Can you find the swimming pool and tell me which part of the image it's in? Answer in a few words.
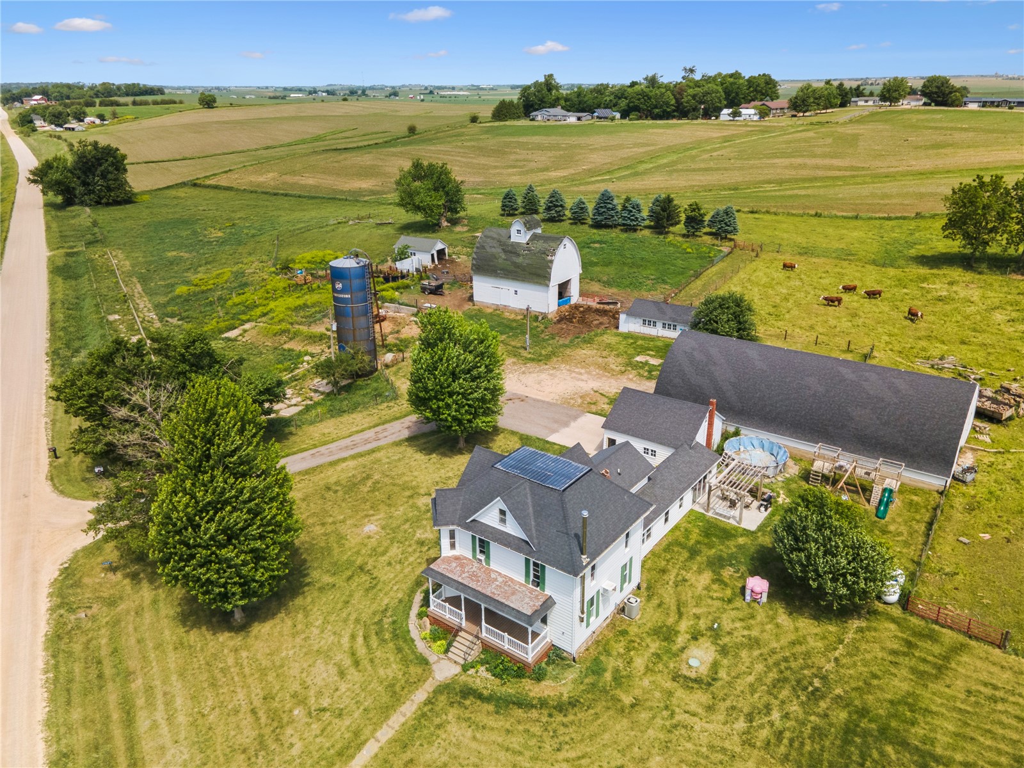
right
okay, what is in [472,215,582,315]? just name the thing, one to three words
barn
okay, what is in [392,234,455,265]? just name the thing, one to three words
shed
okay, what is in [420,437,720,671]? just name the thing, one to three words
house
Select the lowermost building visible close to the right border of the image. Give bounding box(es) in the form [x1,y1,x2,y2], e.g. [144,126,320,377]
[654,323,985,492]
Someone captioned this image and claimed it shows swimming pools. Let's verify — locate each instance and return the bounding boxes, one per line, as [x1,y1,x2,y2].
[719,437,791,482]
